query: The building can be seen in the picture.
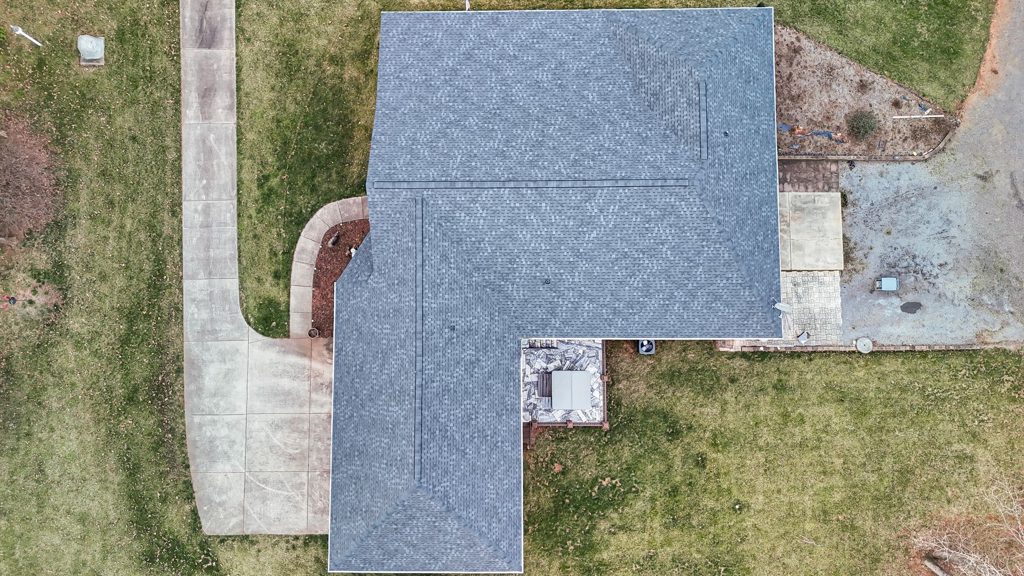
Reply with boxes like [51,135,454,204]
[327,6,784,574]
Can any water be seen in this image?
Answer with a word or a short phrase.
No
